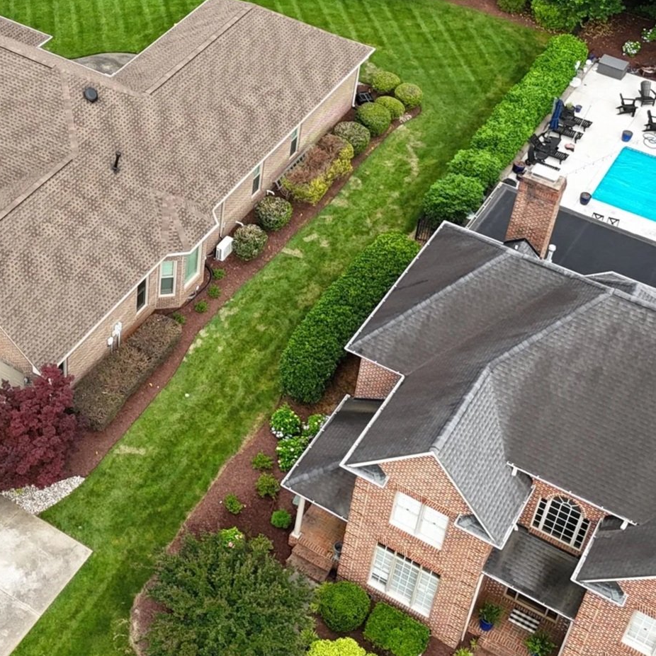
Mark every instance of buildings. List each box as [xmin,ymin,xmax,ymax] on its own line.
[275,167,656,656]
[0,0,378,409]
